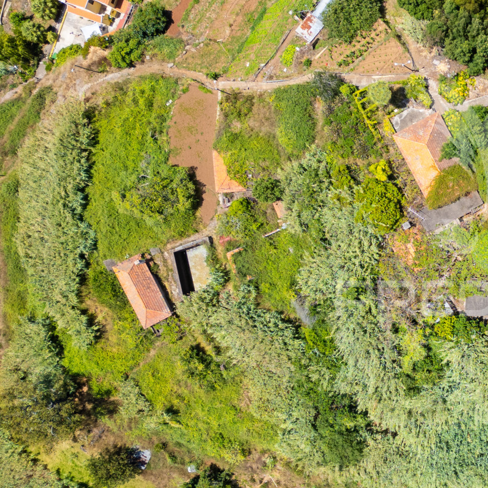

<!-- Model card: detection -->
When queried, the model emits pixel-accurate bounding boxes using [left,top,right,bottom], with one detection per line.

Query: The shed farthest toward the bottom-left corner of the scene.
[111,253,176,330]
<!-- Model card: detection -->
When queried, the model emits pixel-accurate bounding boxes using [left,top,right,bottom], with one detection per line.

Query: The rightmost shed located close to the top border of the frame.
[296,0,339,44]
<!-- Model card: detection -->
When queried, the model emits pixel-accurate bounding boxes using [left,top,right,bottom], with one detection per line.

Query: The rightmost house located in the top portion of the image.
[390,107,483,233]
